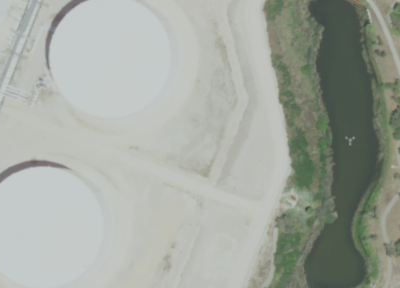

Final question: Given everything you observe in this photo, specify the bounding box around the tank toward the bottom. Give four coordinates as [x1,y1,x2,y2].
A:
[0,166,114,288]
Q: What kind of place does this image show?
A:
industrial area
